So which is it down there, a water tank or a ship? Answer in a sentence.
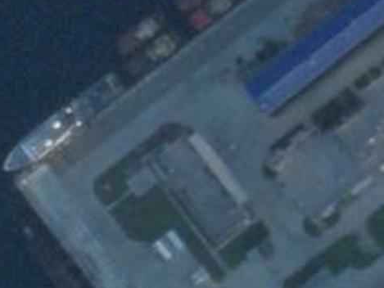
The one in the frame is a ship.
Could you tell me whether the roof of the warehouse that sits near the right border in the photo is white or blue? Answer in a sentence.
The color of the roof of the warehouse that sits near the right border is blue.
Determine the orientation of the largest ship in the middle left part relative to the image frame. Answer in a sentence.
What the image shows is the largest ship in the middle left part lying on a diagonal.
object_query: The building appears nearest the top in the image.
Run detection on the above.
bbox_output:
[245,0,384,112]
